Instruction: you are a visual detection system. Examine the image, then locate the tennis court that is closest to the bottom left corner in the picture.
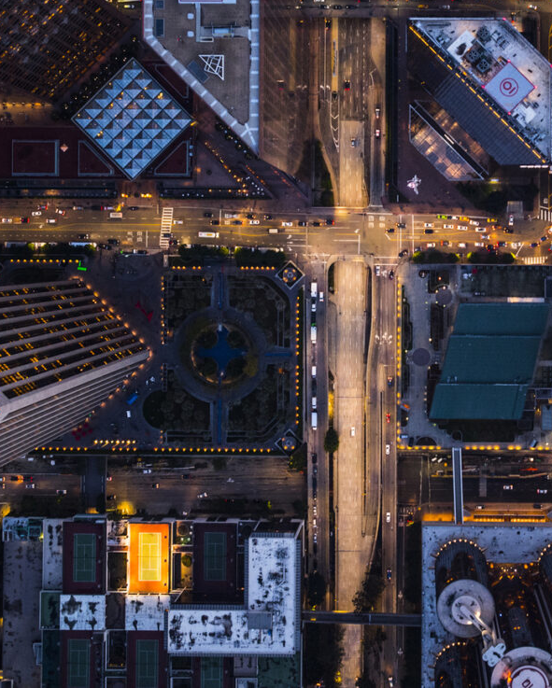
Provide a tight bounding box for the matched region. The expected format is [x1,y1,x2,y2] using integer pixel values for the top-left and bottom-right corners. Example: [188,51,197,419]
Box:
[66,639,91,687]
